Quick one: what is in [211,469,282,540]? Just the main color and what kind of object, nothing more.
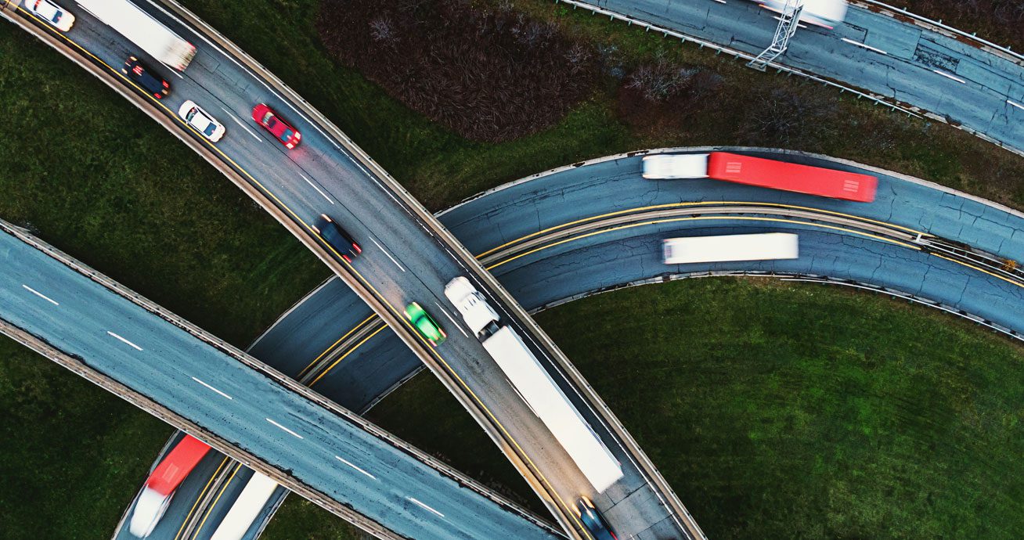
white truck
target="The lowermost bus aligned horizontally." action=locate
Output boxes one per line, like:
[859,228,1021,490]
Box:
[660,231,796,264]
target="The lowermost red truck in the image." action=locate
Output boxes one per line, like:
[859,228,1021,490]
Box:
[138,431,215,534]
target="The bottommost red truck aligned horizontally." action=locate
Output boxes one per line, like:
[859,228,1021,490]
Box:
[638,151,875,205]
